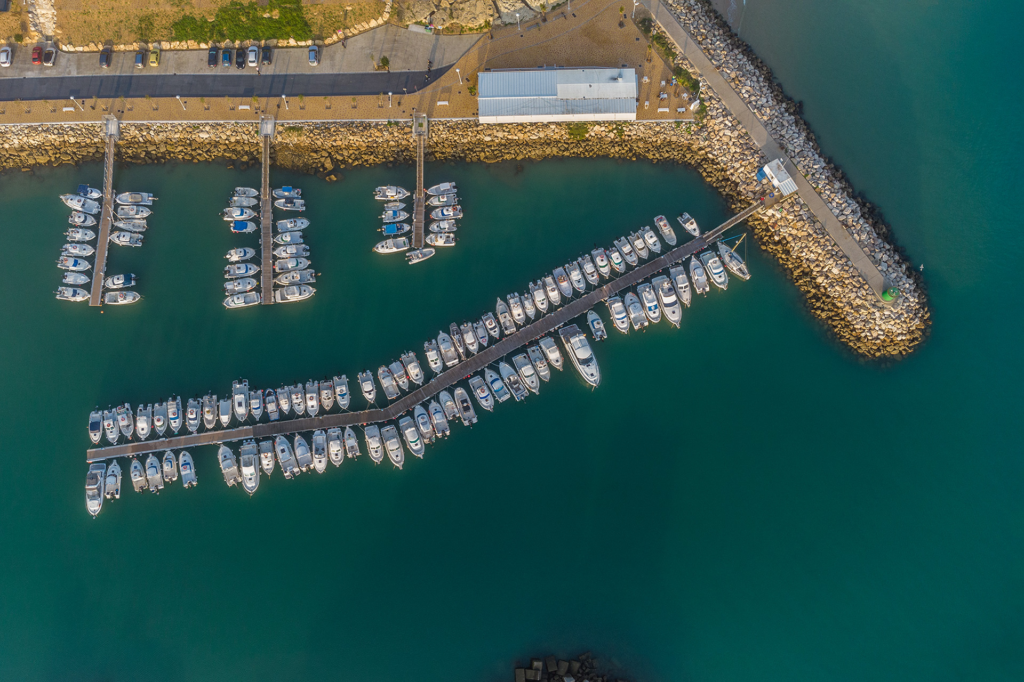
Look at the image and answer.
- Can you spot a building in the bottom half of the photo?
No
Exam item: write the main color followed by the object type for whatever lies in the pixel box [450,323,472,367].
gray boat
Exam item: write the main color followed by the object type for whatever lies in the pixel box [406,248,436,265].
gray boat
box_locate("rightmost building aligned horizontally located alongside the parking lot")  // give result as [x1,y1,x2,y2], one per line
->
[478,64,639,124]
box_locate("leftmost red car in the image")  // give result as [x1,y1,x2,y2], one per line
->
[29,46,42,63]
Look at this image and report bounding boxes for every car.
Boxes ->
[97,48,112,67]
[307,45,318,65]
[260,45,271,64]
[206,47,218,67]
[42,48,56,65]
[133,50,146,67]
[220,48,232,66]
[246,46,258,66]
[233,48,246,69]
[29,46,42,63]
[148,48,161,66]
[0,46,12,66]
